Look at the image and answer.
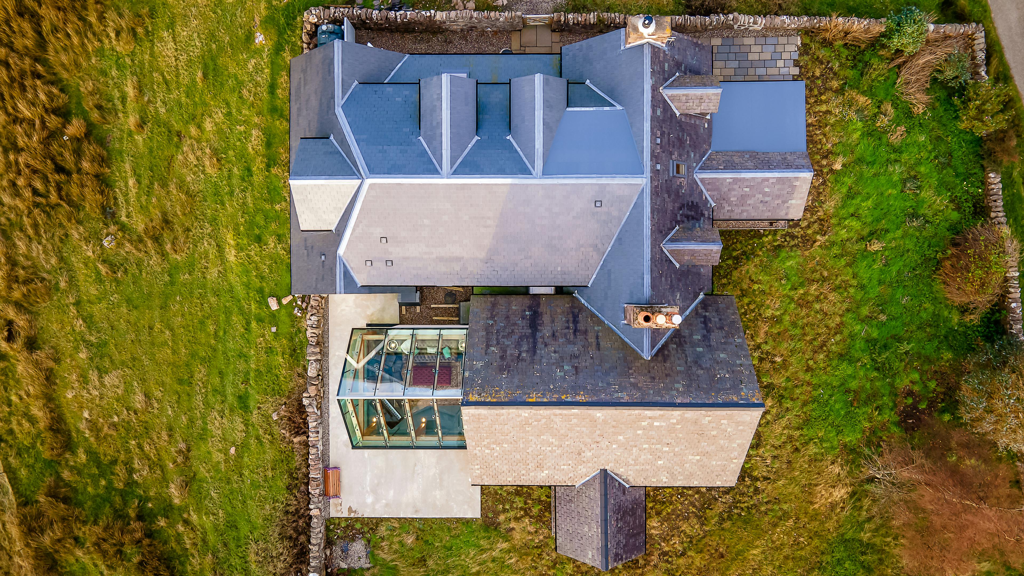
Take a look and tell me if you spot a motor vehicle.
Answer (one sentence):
No, there appears to be no motor vehicle in this shot.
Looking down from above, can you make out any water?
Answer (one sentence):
No, no water is visible.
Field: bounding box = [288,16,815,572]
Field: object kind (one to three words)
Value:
house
